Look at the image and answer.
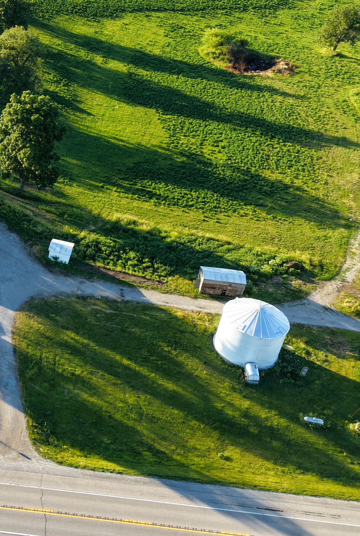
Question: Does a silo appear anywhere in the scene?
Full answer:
Yes, looking at the shot, I can spot a silo.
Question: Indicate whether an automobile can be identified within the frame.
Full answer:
No, the scene contains no automobile.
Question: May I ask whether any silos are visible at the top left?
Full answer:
No, at the top left there is no silo.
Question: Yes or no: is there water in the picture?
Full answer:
No, there is no water in the image.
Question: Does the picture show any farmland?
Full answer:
Yes, farmland shows up in the scene.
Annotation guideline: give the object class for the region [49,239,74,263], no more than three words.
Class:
shed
